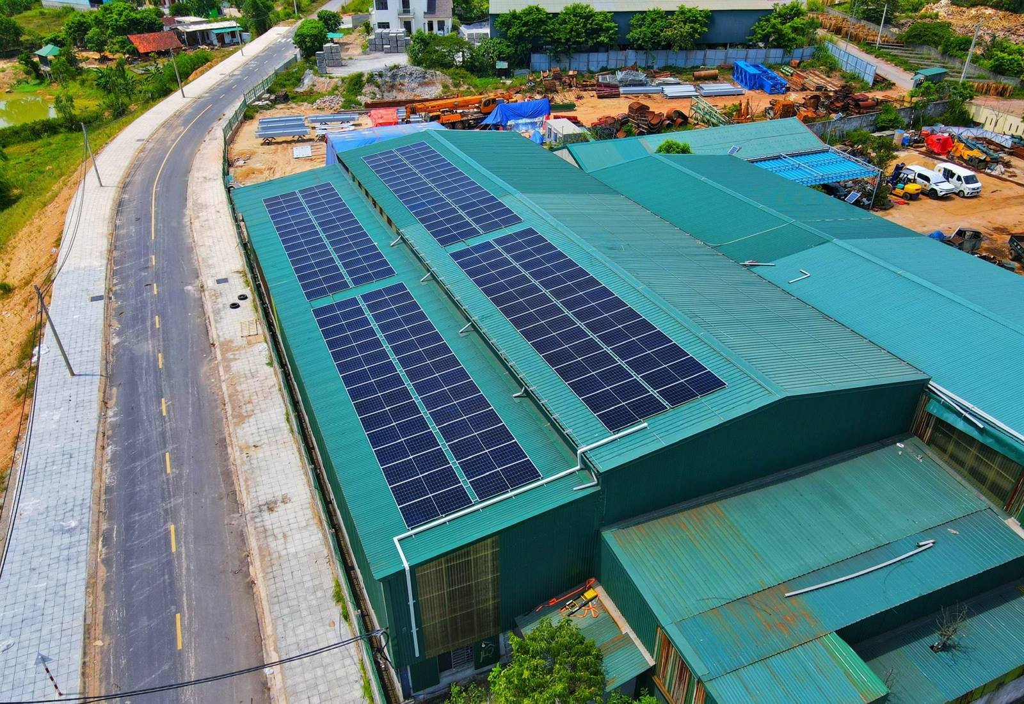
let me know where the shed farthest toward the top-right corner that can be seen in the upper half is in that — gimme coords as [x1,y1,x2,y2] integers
[913,62,961,87]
